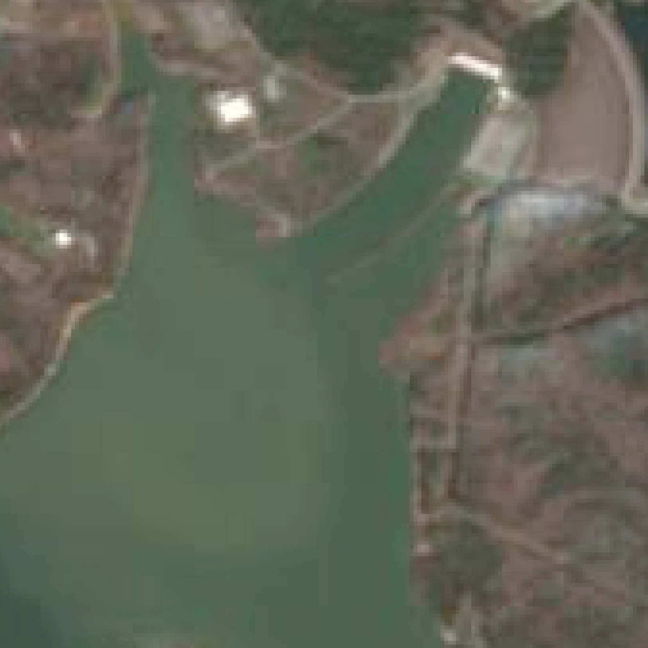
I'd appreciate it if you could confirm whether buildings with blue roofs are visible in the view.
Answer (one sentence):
No, I can see no building with a blue roof in this picture.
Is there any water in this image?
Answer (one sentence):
Yes, water can be seen from above here.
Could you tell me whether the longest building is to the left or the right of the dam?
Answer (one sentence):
To the left of the dam is where the longest building appears.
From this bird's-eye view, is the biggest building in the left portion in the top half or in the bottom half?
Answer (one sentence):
You can find the biggest building in the left portion in the top half.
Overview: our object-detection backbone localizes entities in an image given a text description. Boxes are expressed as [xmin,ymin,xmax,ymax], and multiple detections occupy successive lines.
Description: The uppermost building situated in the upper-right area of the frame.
[449,52,501,75]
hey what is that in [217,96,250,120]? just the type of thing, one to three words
building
